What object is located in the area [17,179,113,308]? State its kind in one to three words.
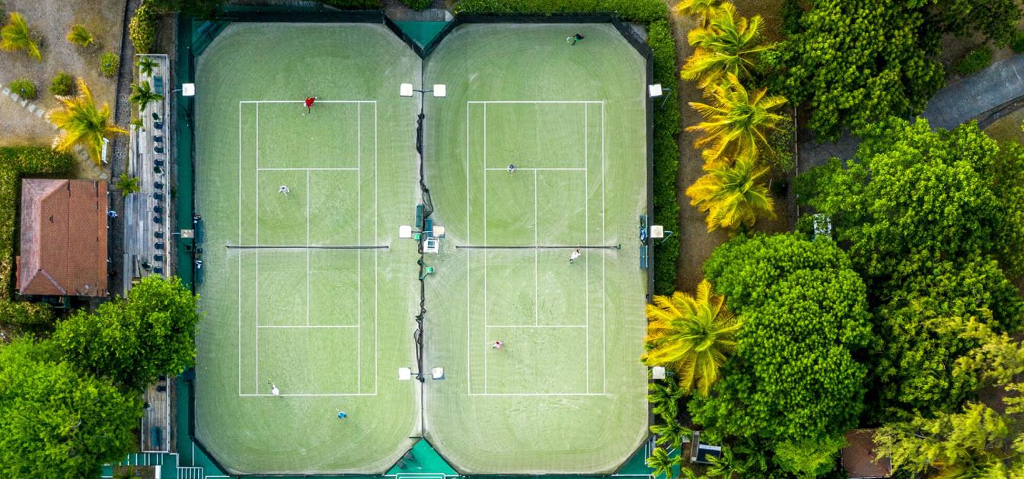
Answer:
house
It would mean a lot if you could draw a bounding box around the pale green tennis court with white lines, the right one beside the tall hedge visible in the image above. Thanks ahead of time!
[422,22,648,475]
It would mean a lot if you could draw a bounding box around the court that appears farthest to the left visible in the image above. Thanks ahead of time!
[194,22,422,475]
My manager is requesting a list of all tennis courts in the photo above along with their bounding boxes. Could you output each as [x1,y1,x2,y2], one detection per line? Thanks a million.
[422,22,648,475]
[194,22,422,475]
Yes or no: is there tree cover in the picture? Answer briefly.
Yes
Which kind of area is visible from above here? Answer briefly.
sports ground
